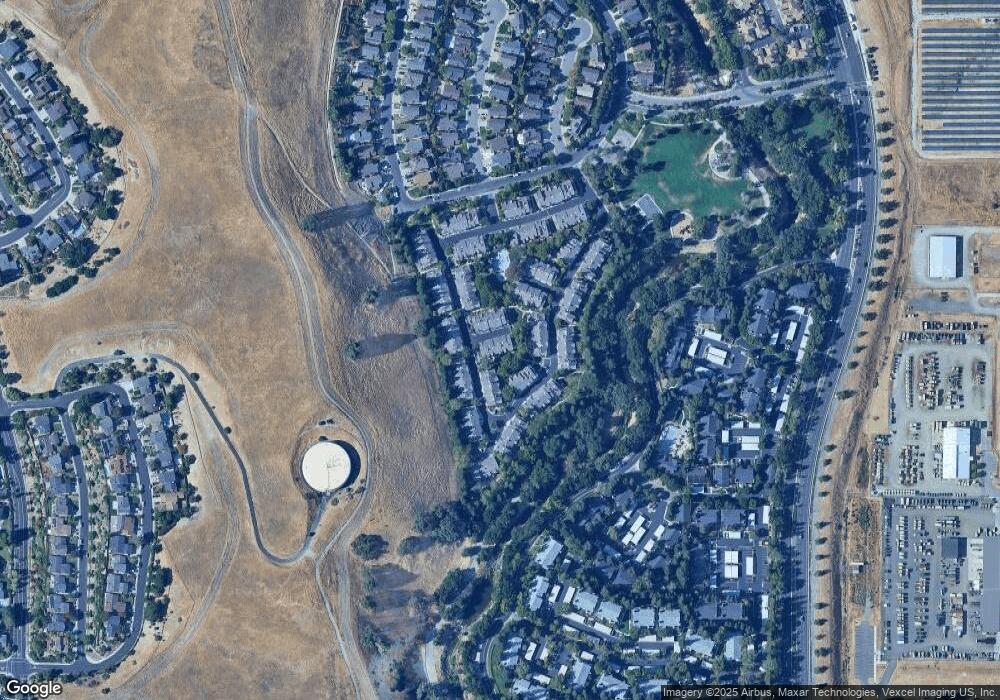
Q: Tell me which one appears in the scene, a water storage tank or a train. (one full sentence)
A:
It is a water storage tank that can be seen here.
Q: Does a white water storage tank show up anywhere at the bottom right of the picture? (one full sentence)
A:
No, there's no white water storage tank to be seen at the bottom right of the picture.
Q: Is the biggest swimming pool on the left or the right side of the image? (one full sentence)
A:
The biggest swimming pool sits on the right side.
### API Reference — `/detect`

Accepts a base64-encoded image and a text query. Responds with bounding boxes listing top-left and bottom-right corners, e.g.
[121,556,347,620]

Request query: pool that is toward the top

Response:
[495,250,514,273]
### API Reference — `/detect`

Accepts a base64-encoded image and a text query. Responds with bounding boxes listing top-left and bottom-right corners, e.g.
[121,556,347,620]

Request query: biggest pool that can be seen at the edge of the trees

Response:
[660,425,694,459]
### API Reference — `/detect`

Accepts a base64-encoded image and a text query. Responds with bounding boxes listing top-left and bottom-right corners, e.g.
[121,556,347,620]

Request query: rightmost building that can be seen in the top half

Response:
[930,236,957,277]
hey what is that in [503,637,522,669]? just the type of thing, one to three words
building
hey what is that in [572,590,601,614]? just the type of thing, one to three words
building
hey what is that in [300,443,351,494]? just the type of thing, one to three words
water tank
